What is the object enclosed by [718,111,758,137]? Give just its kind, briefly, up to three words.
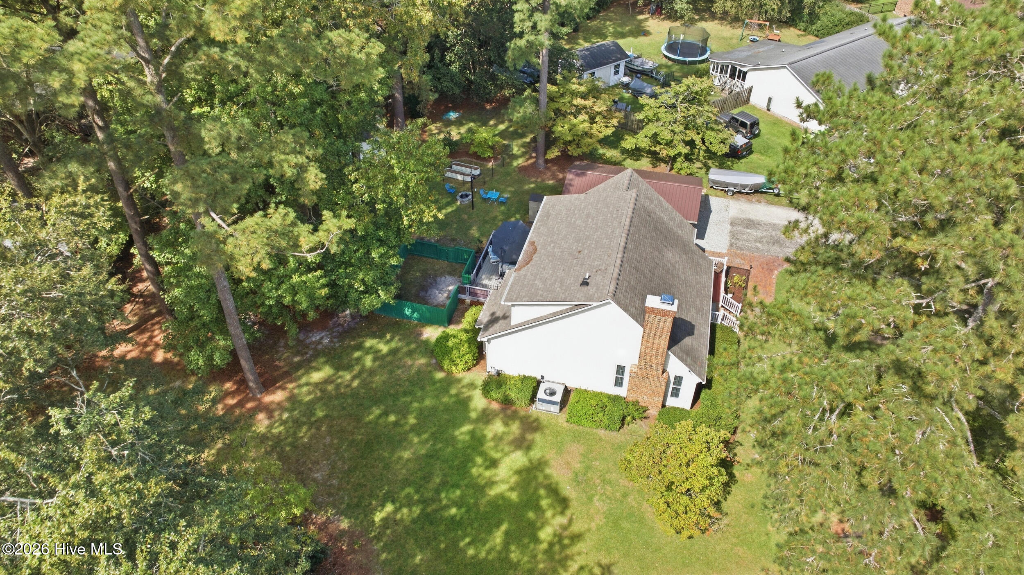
car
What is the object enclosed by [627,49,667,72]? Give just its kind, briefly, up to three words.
boat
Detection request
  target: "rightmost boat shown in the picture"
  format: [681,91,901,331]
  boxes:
[708,169,782,189]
